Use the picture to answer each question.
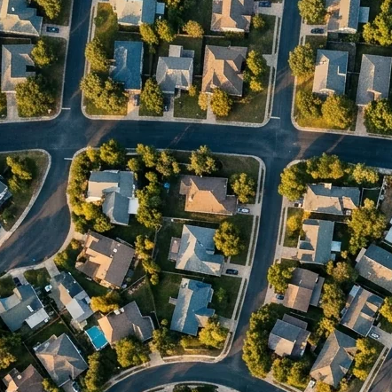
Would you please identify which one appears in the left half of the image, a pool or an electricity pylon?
pool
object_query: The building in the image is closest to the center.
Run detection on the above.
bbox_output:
[176,174,237,217]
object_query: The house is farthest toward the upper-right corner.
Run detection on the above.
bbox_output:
[324,0,369,36]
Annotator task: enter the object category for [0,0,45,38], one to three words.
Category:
house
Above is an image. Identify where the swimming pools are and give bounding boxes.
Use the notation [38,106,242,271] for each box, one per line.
[85,324,111,353]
